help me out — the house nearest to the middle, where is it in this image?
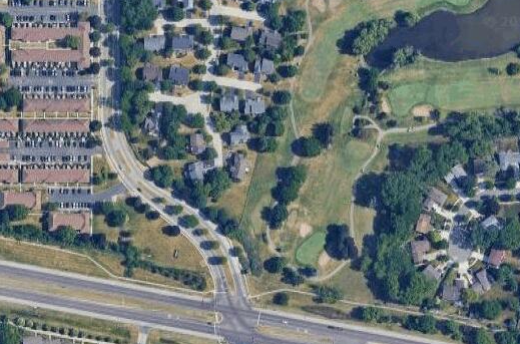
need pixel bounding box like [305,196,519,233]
[233,154,251,180]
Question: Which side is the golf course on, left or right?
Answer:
right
